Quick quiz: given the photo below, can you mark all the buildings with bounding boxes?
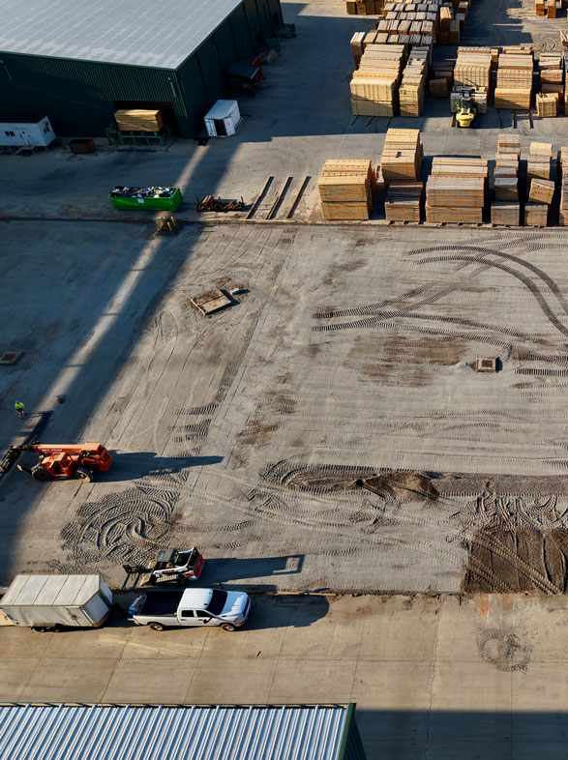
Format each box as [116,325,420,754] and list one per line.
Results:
[0,694,365,760]
[0,0,281,140]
